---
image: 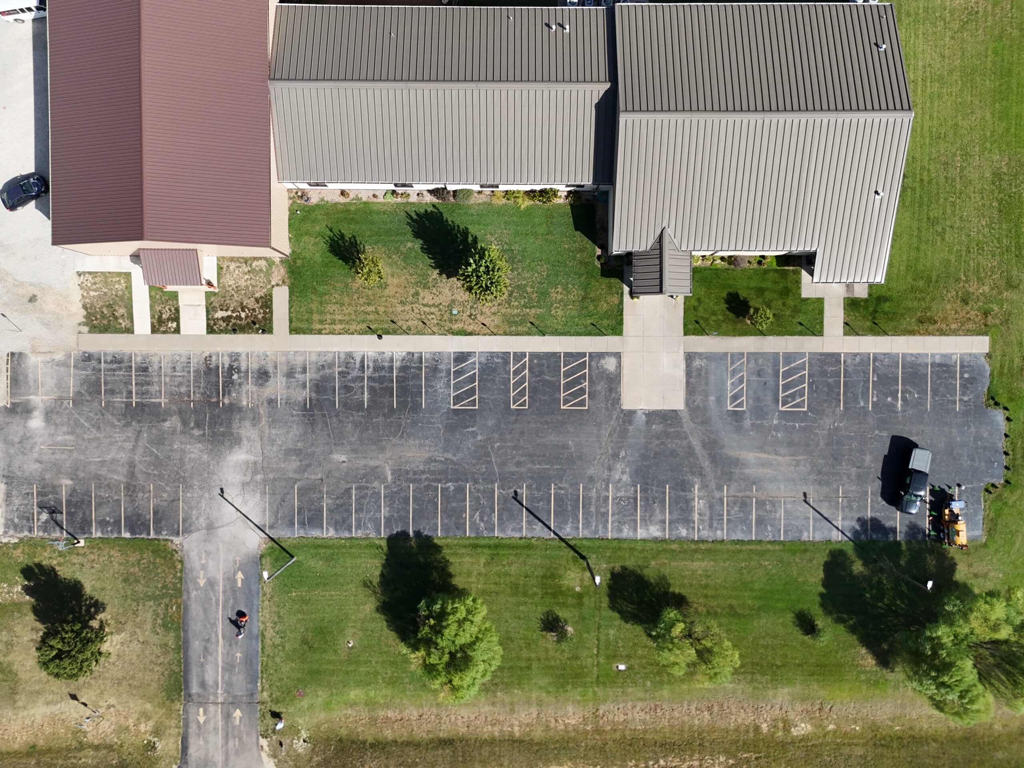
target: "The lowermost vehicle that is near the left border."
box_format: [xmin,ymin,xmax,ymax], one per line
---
[1,178,48,210]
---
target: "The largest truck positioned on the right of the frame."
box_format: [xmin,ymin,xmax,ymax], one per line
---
[895,447,932,514]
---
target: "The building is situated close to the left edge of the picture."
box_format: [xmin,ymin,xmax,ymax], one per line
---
[48,0,289,288]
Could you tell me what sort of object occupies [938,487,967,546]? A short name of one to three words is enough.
trailer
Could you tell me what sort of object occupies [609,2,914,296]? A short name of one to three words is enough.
building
